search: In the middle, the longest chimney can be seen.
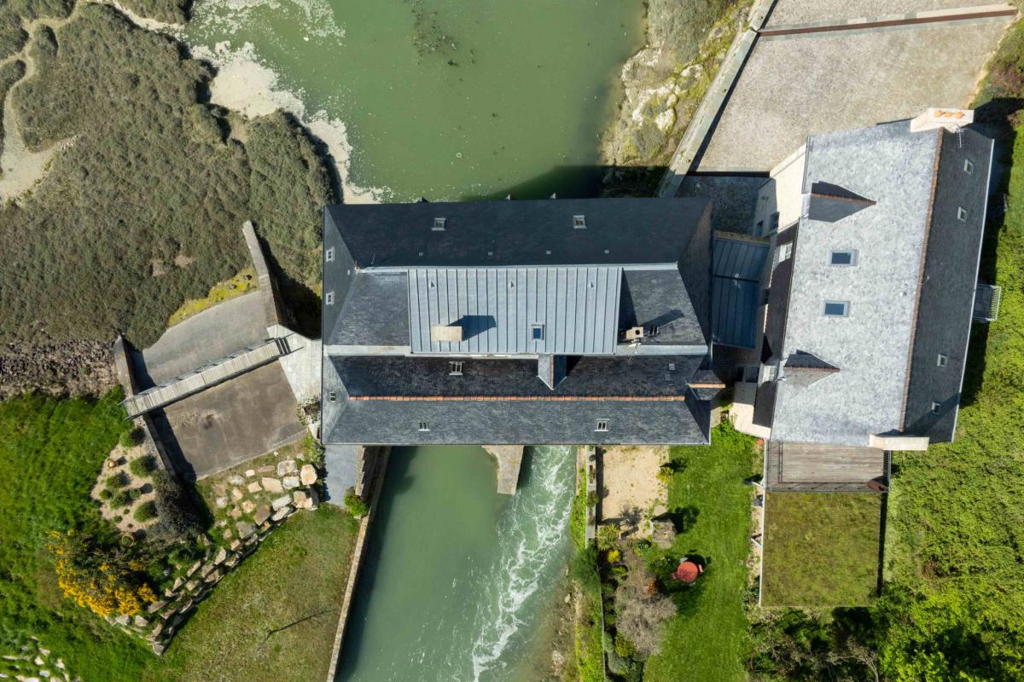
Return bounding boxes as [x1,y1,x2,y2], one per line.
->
[431,326,463,340]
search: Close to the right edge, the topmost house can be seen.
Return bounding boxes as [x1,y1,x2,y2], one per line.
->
[717,107,1004,454]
